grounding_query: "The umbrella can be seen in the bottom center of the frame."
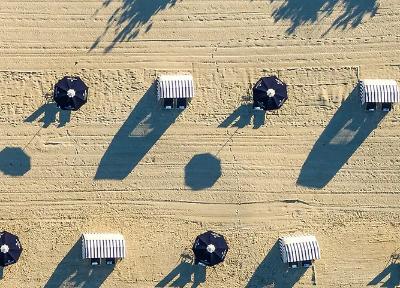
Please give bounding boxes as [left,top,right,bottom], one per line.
[192,231,228,267]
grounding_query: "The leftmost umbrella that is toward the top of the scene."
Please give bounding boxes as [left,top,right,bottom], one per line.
[54,76,88,110]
